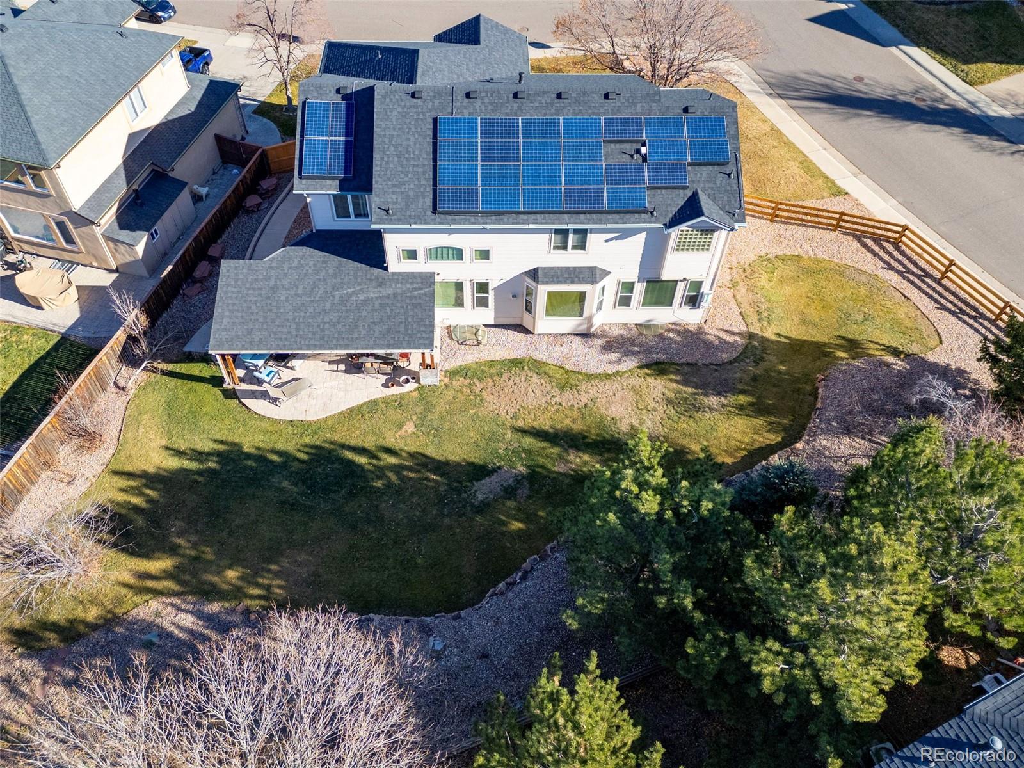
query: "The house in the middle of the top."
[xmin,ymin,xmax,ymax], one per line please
[208,11,748,393]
